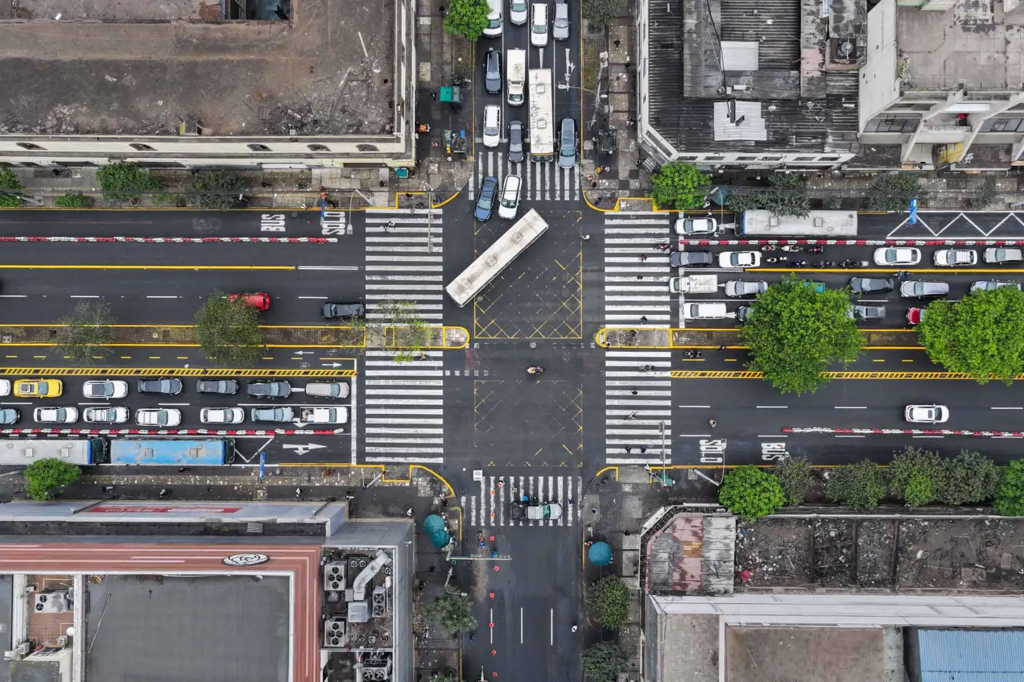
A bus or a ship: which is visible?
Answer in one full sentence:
Looking from above, you can make out a bus.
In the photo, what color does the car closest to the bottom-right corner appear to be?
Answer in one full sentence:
The color of the car closest to the bottom-right corner is white.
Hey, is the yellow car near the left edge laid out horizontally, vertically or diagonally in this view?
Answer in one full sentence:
What the image shows is the yellow car near the left edge lying horizontally.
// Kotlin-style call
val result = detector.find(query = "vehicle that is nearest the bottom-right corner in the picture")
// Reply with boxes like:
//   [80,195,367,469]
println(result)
[902,403,947,424]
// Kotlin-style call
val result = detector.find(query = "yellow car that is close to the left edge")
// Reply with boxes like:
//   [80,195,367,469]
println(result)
[12,377,67,400]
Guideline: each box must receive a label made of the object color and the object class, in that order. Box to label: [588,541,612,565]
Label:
blue umbrella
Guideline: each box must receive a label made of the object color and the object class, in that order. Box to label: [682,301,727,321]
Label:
white vehicle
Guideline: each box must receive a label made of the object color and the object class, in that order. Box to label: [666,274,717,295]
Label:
white truck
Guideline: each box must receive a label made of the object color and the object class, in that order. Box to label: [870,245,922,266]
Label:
white car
